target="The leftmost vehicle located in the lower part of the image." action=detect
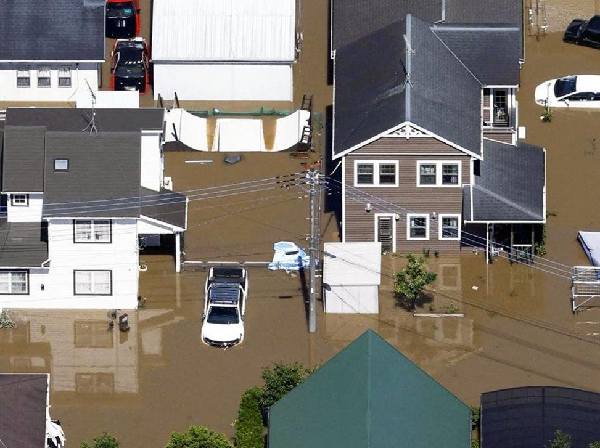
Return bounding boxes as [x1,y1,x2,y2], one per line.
[200,267,250,348]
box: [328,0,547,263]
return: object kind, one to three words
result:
house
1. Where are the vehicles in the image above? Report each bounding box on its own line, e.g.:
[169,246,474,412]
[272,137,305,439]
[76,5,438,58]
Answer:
[558,7,600,45]
[529,70,600,107]
[200,267,250,348]
[109,31,153,96]
[105,0,145,36]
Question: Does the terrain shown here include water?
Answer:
Yes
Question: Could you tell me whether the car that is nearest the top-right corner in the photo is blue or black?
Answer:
black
